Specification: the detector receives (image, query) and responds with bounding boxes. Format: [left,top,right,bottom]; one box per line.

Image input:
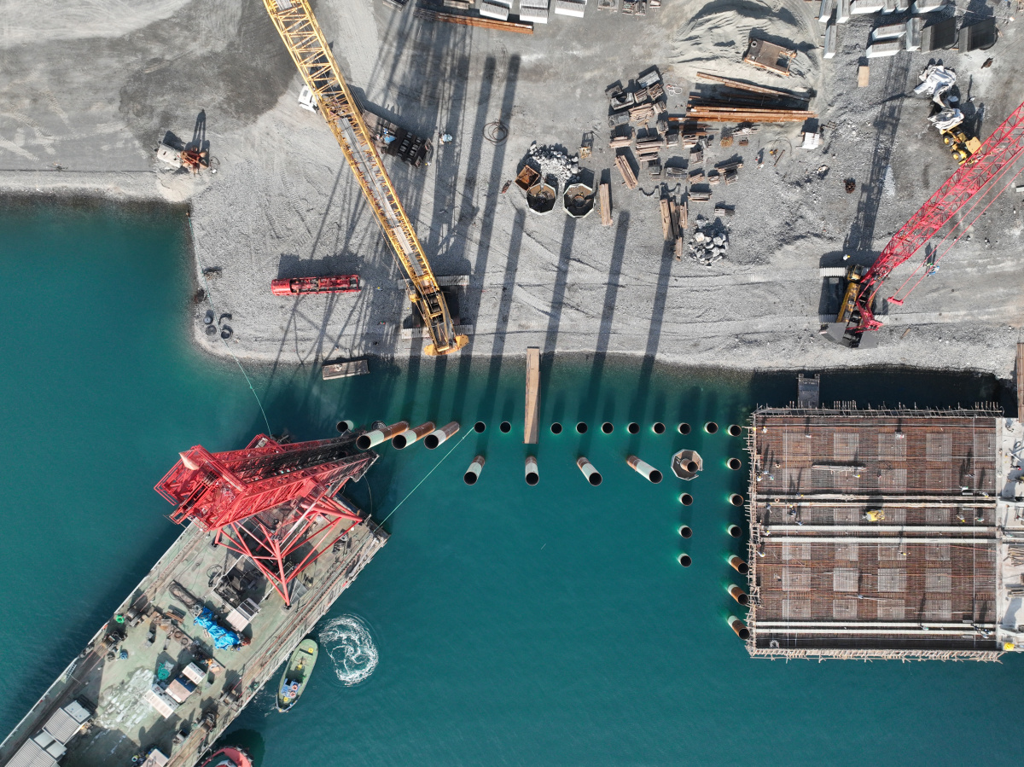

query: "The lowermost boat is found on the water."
[201,738,254,767]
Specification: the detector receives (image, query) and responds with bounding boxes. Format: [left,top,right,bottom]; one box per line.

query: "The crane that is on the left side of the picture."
[270,0,473,363]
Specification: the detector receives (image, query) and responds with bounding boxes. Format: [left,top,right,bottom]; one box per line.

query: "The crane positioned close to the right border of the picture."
[819,87,1024,355]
